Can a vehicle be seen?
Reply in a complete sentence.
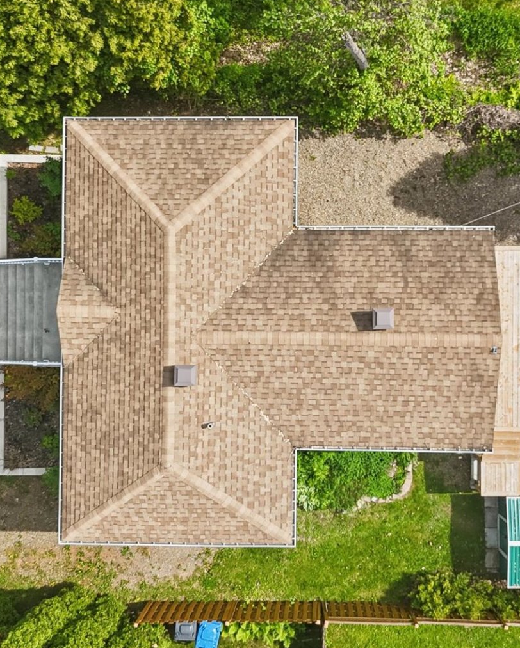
No, the photo shows no vehicle.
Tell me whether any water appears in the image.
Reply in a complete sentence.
No, the picture contains no water.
